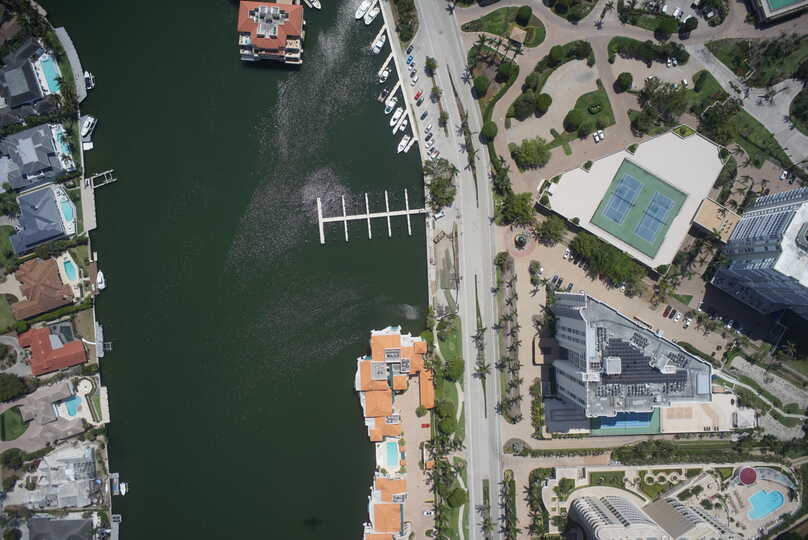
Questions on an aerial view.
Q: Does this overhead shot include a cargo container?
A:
No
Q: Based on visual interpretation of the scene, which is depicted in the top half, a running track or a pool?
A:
pool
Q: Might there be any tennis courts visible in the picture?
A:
Yes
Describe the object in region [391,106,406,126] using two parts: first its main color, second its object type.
white boat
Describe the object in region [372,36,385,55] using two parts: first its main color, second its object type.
white boat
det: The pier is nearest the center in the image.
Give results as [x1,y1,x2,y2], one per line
[316,189,428,243]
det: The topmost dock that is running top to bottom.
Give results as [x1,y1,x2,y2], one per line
[80,178,98,231]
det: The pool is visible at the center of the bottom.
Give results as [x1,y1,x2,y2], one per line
[376,438,405,473]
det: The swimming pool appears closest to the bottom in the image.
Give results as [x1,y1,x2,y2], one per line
[748,489,786,521]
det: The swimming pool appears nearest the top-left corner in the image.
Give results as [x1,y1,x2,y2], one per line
[36,53,63,95]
